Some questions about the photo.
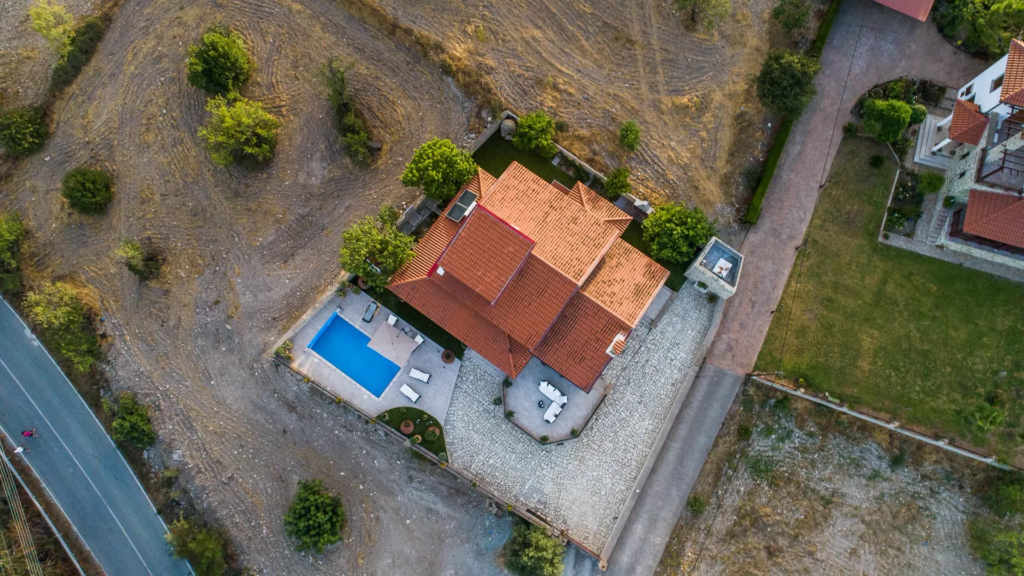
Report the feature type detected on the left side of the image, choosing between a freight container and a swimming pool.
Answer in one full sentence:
Visible on the left side of the image is a swimming pool.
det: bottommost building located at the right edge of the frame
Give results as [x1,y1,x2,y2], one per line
[915,38,1024,273]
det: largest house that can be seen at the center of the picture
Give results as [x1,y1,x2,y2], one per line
[388,161,671,392]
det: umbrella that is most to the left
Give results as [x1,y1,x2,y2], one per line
[368,321,419,367]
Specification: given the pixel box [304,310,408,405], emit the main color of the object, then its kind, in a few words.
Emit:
blue swimming pool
